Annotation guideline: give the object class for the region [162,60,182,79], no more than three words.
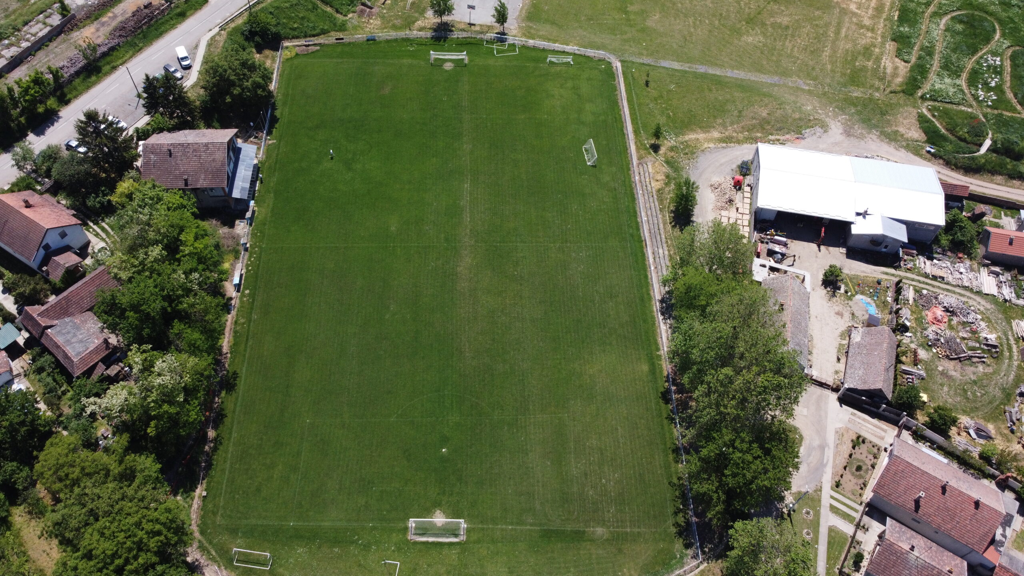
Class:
car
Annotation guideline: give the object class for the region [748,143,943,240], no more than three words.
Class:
building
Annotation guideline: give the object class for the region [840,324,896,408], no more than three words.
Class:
shed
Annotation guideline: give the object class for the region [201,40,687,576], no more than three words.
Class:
soccer field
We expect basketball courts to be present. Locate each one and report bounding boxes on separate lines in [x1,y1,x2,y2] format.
[428,0,520,28]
